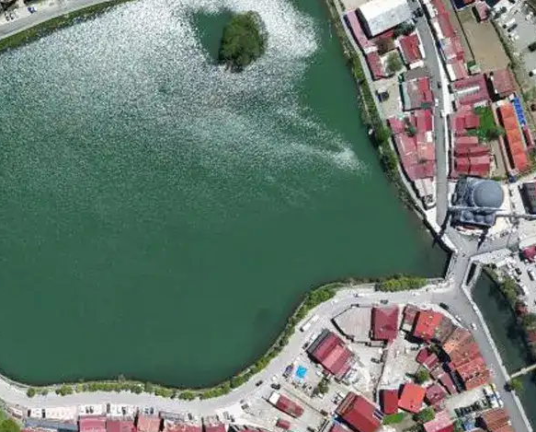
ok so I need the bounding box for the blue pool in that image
[294,365,307,379]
